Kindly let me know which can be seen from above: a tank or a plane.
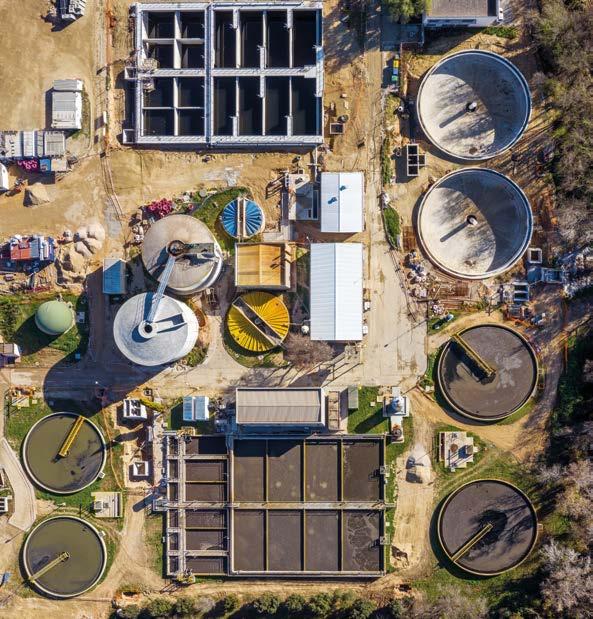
tank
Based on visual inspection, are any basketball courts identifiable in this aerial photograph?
No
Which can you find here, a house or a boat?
house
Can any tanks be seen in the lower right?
Yes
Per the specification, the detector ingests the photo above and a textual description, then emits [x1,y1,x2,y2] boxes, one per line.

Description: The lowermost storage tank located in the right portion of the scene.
[436,476,543,578]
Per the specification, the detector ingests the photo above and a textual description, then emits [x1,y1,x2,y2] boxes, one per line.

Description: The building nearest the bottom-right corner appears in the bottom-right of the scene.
[438,431,478,472]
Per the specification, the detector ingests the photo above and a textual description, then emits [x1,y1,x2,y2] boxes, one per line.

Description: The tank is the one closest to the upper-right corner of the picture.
[417,48,531,163]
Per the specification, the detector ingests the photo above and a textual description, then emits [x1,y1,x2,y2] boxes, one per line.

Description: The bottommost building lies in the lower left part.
[91,491,123,517]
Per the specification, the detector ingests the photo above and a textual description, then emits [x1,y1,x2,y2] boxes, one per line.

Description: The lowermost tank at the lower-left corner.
[22,514,108,599]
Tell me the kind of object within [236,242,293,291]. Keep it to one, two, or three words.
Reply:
building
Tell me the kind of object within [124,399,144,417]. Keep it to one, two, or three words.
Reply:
shed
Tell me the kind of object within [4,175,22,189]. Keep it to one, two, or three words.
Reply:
vehicle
